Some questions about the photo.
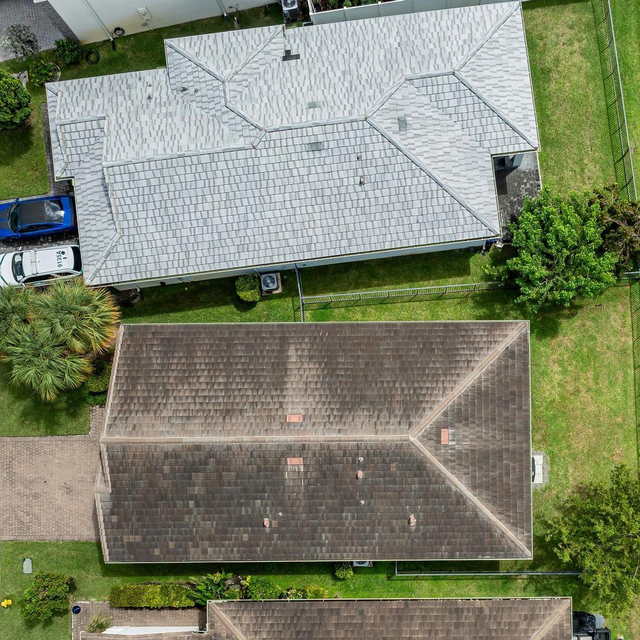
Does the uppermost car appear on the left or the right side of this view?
left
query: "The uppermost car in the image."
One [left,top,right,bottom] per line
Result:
[0,195,79,243]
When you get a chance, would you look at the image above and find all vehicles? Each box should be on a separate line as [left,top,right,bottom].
[0,239,84,288]
[0,195,79,243]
